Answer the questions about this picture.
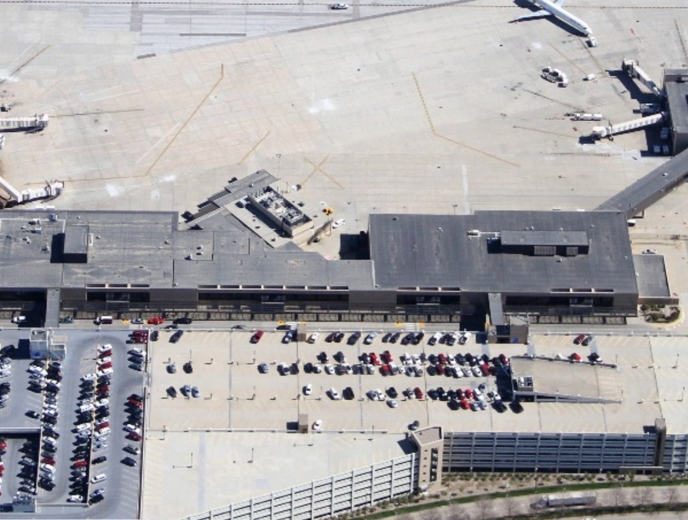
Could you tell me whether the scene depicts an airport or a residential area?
airport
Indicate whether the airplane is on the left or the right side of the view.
right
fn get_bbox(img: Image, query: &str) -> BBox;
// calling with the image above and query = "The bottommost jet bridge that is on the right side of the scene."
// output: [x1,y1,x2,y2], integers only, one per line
[593,112,668,144]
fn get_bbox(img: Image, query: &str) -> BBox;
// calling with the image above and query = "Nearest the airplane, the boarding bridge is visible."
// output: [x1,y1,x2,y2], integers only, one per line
[622,61,666,107]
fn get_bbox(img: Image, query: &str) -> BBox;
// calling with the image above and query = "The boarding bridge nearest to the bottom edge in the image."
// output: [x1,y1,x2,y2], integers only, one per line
[0,177,67,210]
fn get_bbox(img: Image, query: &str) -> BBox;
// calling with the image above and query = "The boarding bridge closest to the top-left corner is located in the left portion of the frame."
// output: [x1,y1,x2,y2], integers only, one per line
[0,115,54,136]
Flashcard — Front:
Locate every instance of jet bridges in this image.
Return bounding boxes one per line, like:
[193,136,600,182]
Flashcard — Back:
[0,115,54,136]
[0,177,67,210]
[622,61,666,107]
[593,112,668,144]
